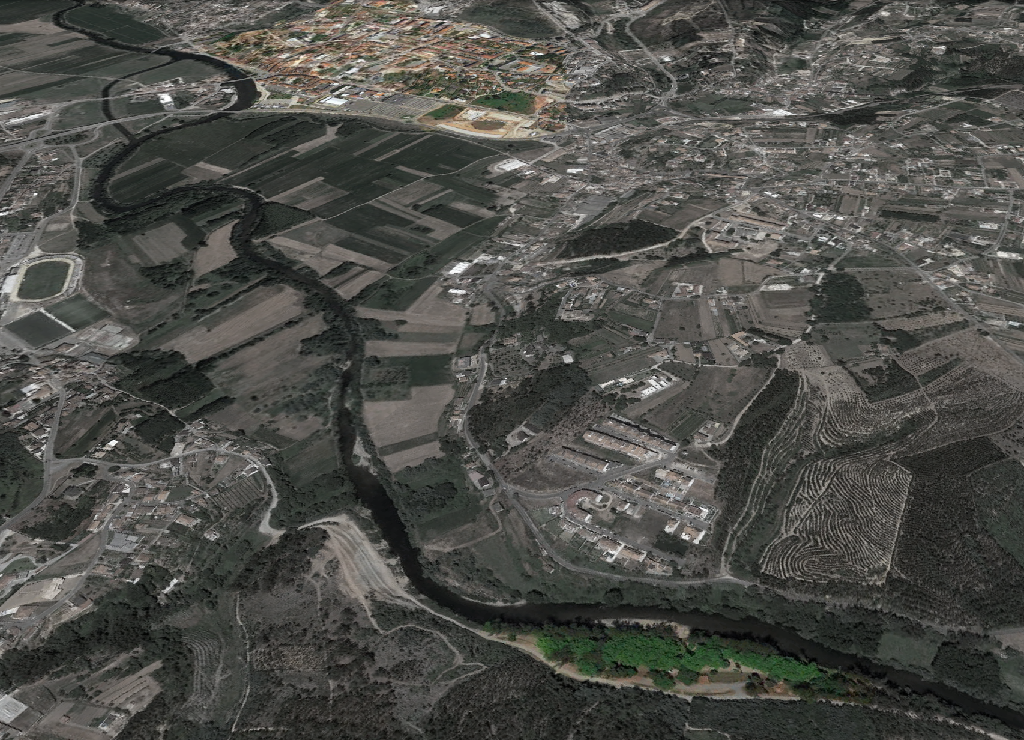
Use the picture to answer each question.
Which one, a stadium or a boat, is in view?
stadium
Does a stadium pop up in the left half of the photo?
Yes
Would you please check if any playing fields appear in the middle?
No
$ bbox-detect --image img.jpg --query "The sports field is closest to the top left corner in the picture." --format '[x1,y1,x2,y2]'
[17,260,70,298]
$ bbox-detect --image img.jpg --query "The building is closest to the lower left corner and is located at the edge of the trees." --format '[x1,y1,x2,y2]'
[0,688,28,726]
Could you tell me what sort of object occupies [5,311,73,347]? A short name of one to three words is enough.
sports field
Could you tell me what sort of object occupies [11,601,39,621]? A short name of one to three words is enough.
house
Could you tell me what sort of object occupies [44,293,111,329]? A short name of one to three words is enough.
sports field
